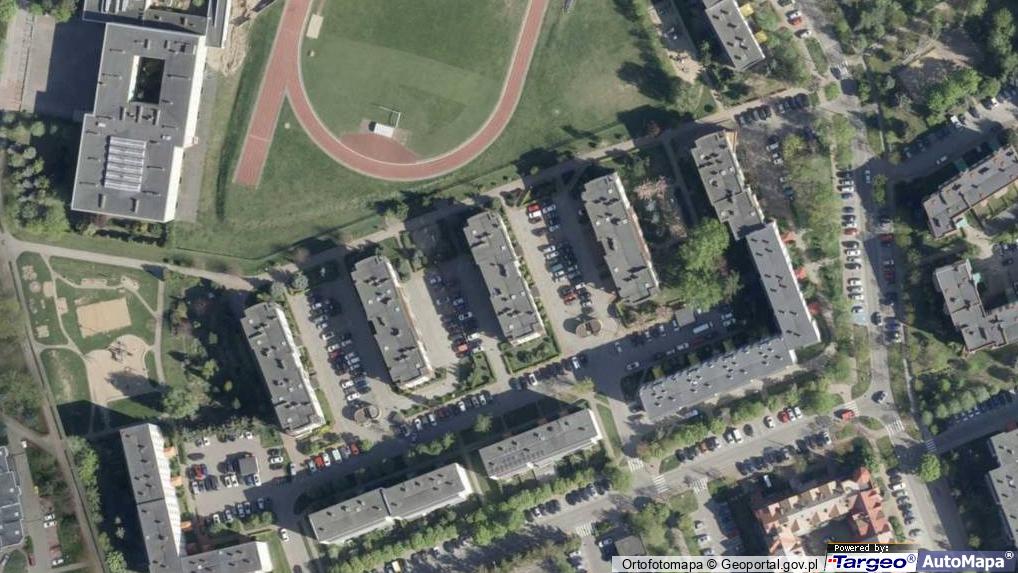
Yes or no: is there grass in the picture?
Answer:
Yes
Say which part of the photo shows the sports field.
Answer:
top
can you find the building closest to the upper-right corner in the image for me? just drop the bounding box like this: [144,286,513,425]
[923,145,1018,245]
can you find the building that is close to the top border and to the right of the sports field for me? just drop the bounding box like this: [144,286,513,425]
[702,0,766,76]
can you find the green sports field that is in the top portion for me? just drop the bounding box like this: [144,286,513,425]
[301,0,532,161]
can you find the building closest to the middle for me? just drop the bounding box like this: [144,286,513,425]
[463,210,546,343]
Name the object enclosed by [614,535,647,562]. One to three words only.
shed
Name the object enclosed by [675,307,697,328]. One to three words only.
shed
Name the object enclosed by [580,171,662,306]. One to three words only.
building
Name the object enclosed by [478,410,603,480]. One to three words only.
building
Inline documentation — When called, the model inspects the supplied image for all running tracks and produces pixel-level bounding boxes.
[234,0,553,188]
